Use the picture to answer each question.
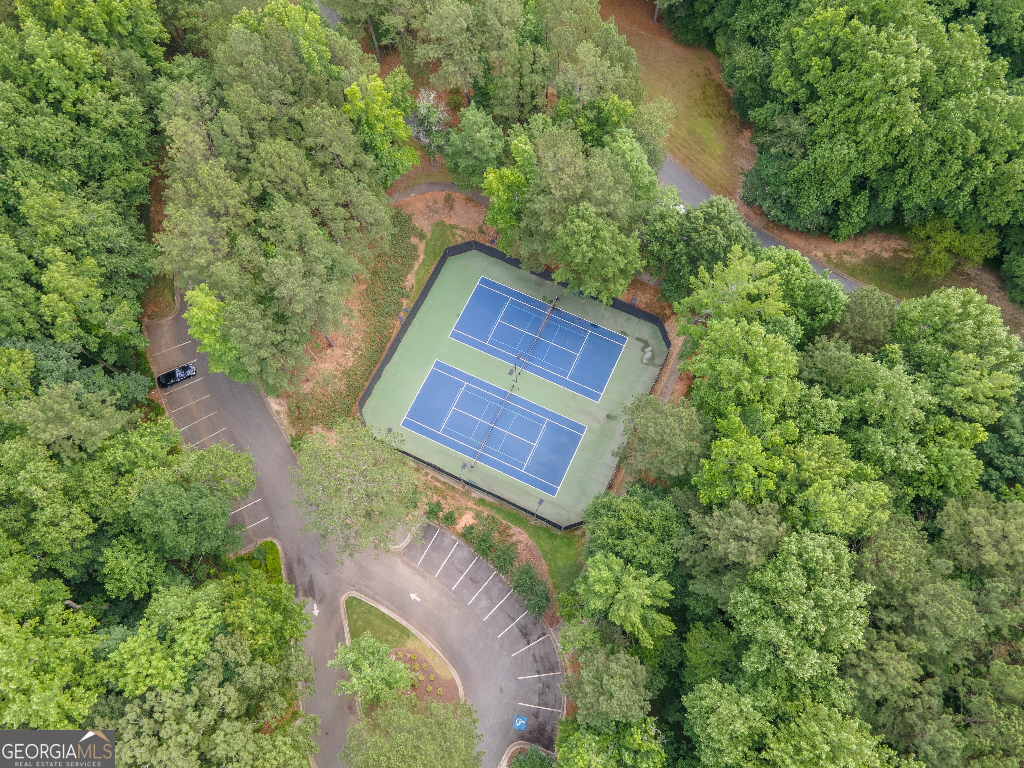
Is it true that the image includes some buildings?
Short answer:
No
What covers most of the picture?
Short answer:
trees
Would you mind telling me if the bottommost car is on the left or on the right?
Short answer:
left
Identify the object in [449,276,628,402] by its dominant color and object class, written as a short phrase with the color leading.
blue tennis court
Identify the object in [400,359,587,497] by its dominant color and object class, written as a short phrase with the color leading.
blue tennis court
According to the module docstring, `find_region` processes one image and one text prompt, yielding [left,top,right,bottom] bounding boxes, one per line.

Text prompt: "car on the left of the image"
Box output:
[158,365,195,387]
